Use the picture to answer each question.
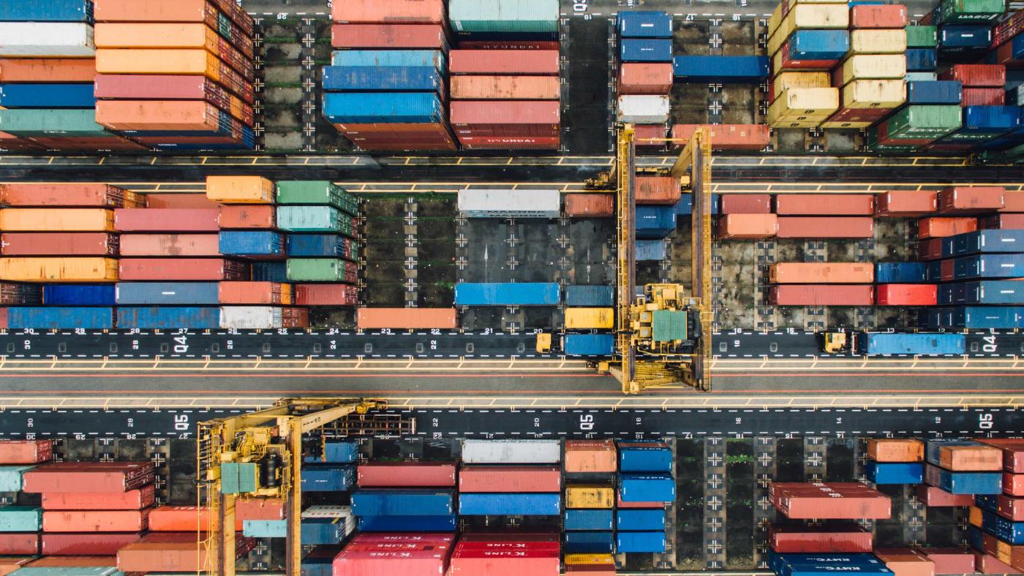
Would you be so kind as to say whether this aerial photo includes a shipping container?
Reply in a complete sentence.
Yes, the picture does show a shipping container.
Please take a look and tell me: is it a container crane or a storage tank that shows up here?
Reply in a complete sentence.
There is a container crane in the scene.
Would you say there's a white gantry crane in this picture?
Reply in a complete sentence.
No, no white gantry crane can be seen from above.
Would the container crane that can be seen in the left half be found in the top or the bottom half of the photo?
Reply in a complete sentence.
You can find the container crane that can be seen in the left half in the bottom half.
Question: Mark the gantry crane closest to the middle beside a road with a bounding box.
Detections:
[582,123,716,395]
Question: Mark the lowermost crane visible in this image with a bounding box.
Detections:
[187,399,394,576]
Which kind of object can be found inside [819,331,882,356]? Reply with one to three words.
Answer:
truck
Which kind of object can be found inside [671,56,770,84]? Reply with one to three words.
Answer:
shipping container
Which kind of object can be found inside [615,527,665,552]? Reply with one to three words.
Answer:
shipping container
